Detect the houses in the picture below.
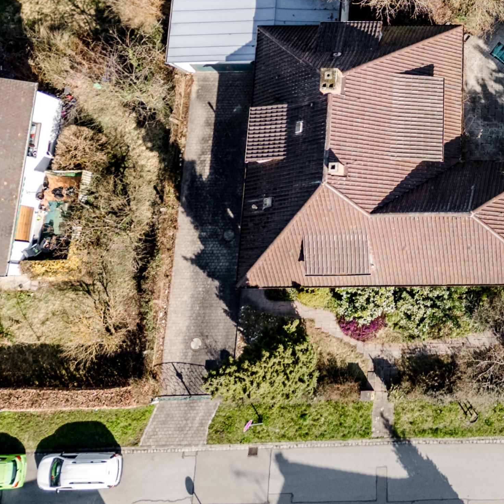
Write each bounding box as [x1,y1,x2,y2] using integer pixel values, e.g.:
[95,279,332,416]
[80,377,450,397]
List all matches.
[236,19,504,289]
[0,78,62,277]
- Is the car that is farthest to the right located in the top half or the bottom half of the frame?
bottom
